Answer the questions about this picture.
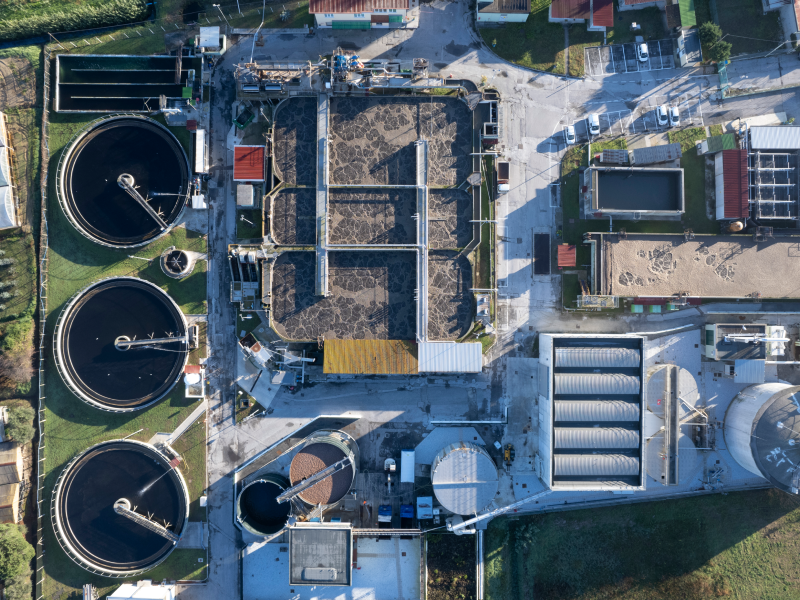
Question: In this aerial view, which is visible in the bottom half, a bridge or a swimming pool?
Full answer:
There is a bridge in the bottom half.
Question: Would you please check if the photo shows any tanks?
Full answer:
Yes, the picture does show a tank.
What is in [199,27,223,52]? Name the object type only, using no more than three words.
shed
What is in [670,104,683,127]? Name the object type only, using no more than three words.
vehicle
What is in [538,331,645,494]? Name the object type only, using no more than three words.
building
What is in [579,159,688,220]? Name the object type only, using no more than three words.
storage tank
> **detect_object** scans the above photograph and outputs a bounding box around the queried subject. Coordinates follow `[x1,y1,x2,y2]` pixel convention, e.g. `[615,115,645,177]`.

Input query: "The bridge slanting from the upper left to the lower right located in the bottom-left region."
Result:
[114,504,180,548]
